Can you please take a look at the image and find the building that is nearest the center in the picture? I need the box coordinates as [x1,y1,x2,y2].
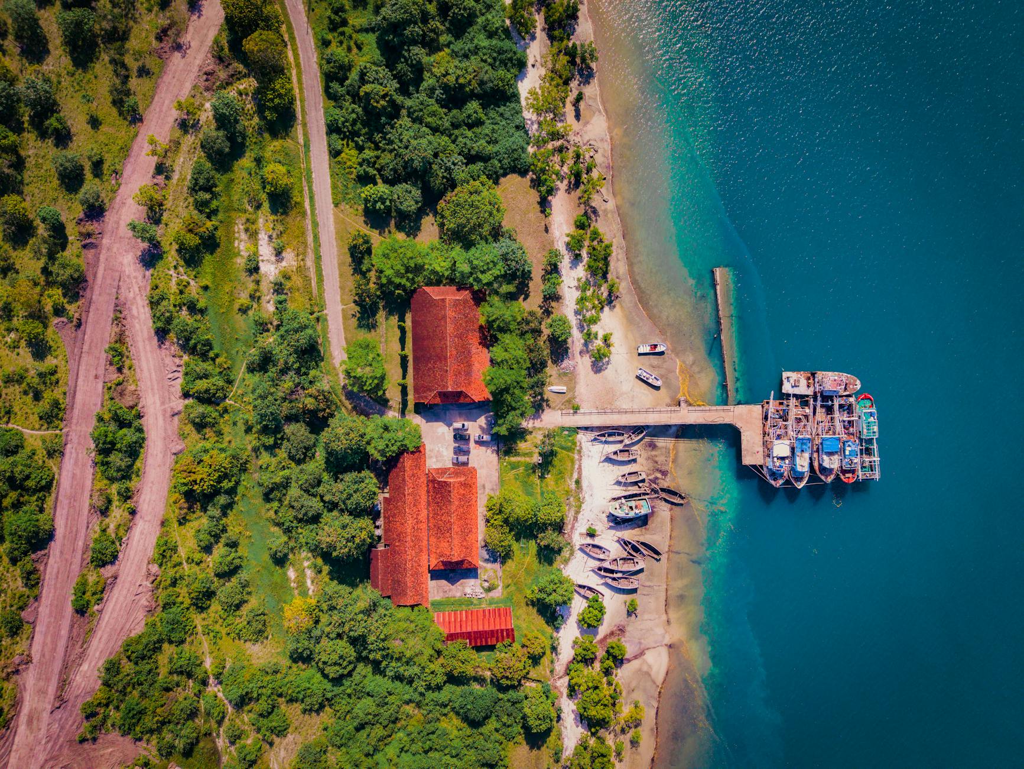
[411,284,492,405]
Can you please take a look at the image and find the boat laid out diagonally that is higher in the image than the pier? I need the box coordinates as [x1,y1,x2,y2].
[636,368,661,385]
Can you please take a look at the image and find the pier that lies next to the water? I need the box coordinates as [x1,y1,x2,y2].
[514,405,764,465]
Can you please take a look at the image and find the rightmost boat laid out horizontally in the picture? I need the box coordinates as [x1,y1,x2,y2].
[780,371,862,395]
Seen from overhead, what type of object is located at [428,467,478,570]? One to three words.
house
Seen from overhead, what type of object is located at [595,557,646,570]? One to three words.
boat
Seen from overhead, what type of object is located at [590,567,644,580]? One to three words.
boat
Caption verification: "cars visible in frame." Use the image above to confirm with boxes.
[452,455,469,462]
[453,433,471,441]
[453,444,471,452]
[452,422,469,430]
[473,434,491,441]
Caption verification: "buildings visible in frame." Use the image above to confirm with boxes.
[411,284,492,405]
[436,605,516,643]
[384,438,429,613]
[428,467,478,570]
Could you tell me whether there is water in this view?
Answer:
Yes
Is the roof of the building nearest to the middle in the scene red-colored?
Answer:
Yes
